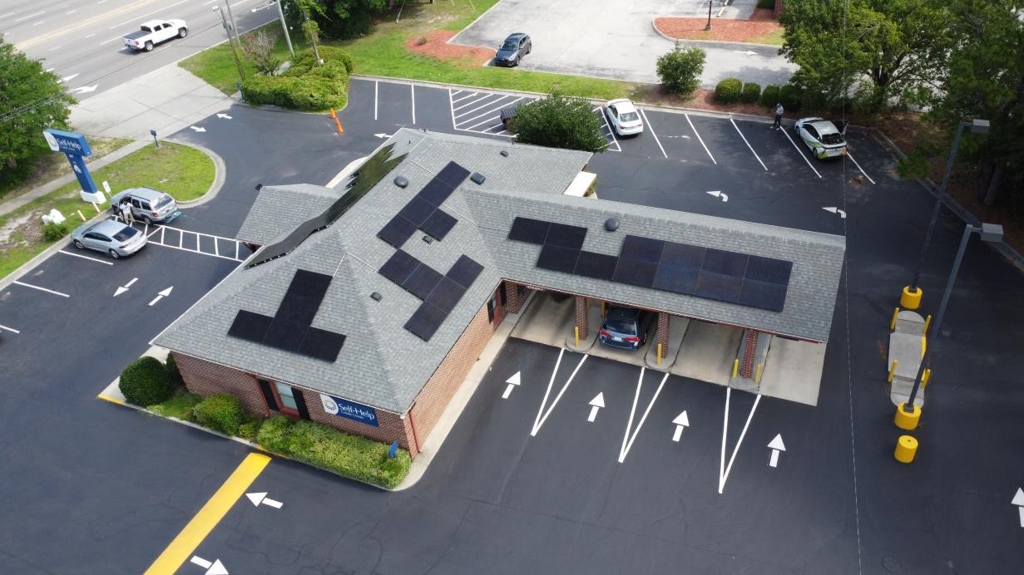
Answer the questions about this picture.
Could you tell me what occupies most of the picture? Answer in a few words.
paved ground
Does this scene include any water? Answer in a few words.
No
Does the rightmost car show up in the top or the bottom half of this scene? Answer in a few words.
top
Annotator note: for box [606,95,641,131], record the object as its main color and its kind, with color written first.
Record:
white car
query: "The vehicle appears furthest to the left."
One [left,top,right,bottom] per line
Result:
[62,216,144,259]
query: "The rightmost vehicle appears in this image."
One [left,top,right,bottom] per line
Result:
[796,115,850,155]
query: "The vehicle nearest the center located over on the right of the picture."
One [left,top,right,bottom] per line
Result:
[602,305,657,351]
